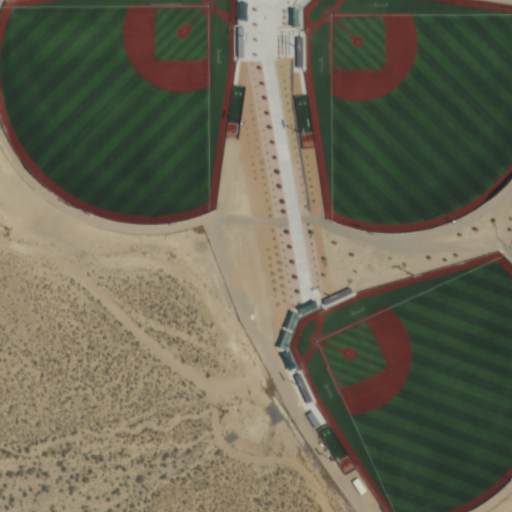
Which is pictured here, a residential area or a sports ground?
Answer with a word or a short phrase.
sports ground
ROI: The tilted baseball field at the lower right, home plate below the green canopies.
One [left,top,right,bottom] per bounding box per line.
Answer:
[290,248,512,512]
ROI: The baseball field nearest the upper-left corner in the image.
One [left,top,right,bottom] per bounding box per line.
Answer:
[0,0,236,224]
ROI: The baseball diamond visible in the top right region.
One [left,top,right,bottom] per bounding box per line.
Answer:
[304,0,512,233]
